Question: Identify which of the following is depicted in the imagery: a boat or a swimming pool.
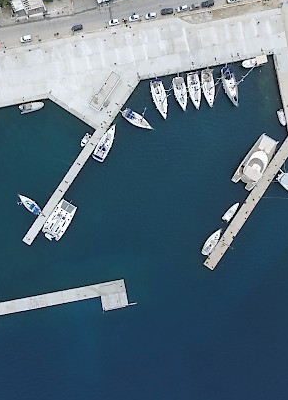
boat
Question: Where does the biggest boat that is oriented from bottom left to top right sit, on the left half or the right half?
right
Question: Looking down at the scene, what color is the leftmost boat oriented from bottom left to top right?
white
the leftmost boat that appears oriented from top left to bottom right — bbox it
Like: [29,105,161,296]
[18,195,44,215]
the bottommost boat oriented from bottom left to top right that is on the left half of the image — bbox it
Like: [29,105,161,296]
[43,200,75,240]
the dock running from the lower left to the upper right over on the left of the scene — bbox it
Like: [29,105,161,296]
[22,127,108,245]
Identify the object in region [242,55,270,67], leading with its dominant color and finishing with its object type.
white boat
